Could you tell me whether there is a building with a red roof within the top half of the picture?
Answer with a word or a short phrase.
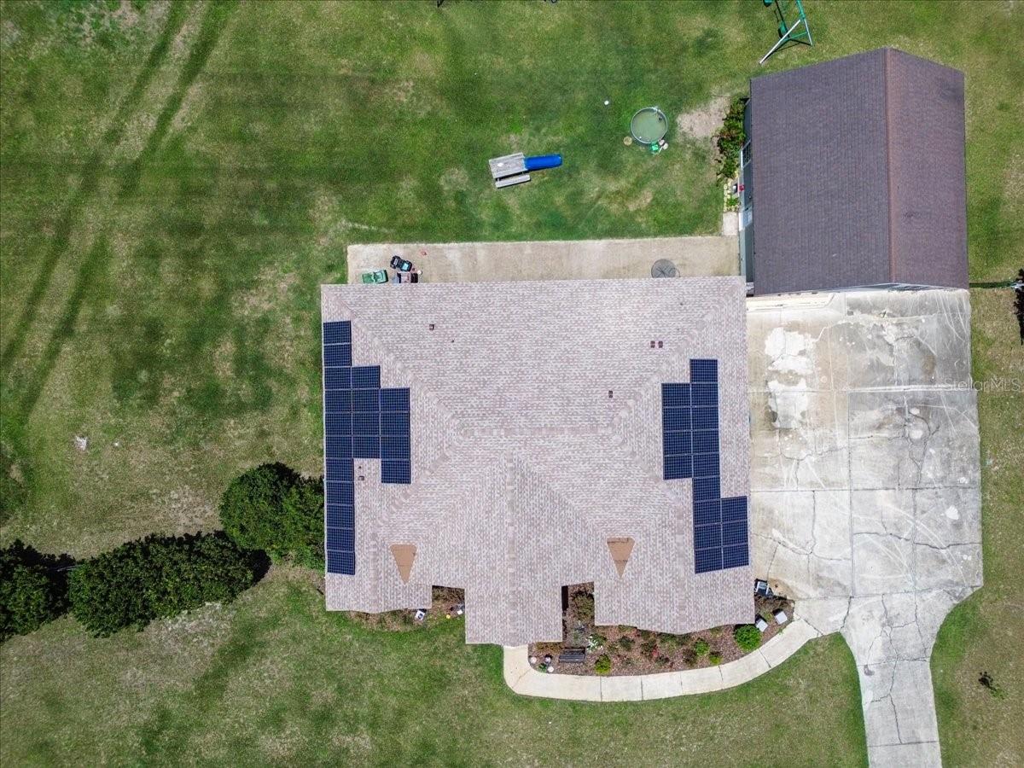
No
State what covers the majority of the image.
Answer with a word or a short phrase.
grass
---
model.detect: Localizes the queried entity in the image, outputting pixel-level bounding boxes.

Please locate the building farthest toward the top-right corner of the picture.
[737,46,969,296]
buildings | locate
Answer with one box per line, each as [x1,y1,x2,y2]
[319,277,753,651]
[737,46,969,296]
